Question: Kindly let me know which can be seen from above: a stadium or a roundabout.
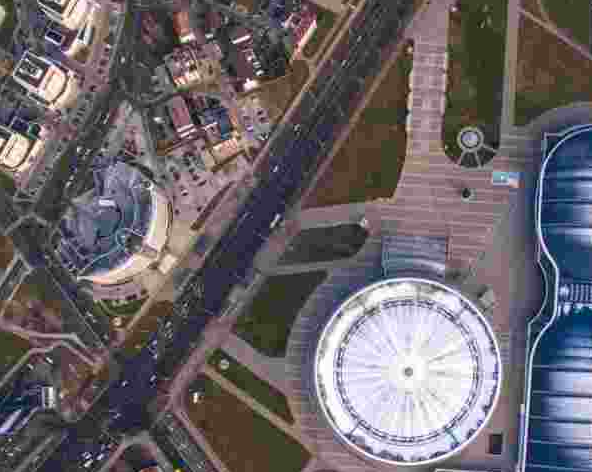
stadium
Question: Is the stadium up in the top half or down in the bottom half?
bottom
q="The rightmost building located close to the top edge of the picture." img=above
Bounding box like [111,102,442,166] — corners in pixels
[284,10,316,52]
